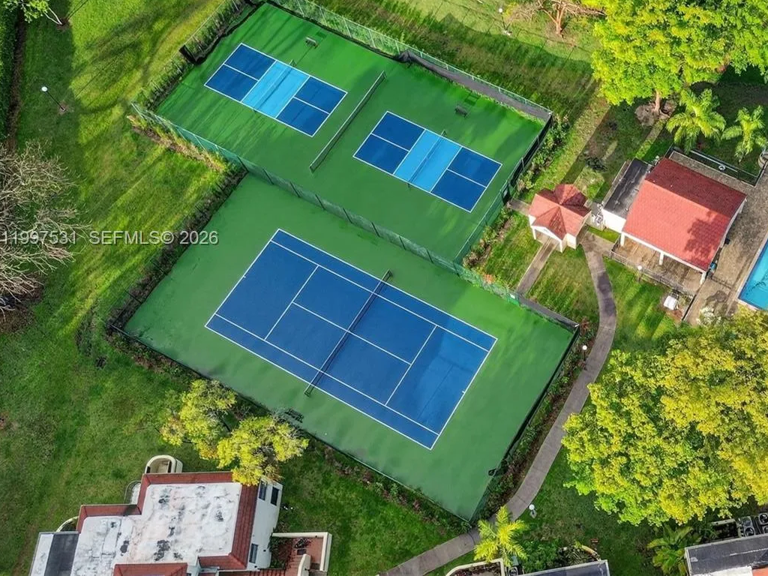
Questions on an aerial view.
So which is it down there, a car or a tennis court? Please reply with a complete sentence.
Looking from above, you can make out a tennis court.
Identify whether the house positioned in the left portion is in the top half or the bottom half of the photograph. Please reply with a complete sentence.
You can find the house positioned in the left portion in the bottom half.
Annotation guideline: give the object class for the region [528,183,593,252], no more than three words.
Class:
gazebo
